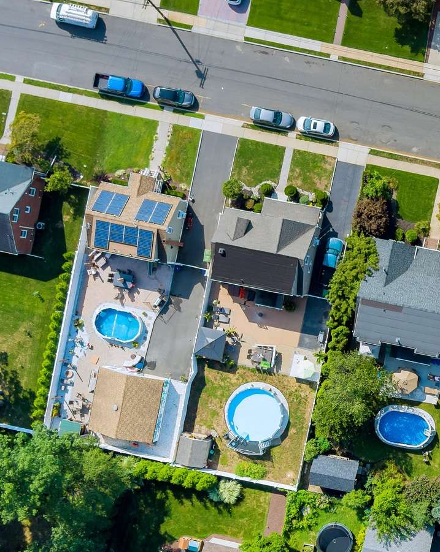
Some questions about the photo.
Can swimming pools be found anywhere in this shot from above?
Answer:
Yes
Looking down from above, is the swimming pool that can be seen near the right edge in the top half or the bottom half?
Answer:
bottom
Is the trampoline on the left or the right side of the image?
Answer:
right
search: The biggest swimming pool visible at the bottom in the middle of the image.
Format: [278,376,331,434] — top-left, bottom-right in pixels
[225,381,288,451]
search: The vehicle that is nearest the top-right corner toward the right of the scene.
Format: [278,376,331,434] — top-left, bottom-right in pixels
[296,116,337,138]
